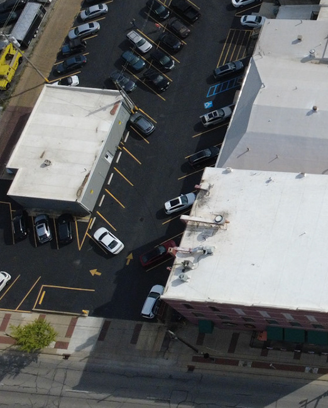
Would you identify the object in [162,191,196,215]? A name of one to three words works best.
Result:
car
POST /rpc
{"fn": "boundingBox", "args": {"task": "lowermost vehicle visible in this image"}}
[136,282,165,318]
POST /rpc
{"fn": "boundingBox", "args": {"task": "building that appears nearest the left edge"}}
[6,85,133,213]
